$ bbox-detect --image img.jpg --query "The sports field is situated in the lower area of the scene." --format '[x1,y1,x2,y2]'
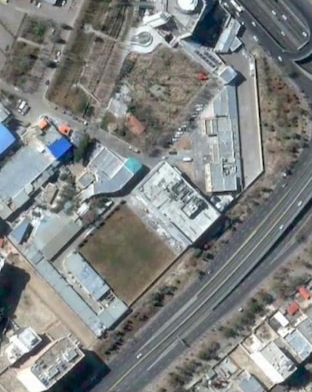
[80,206,174,303]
